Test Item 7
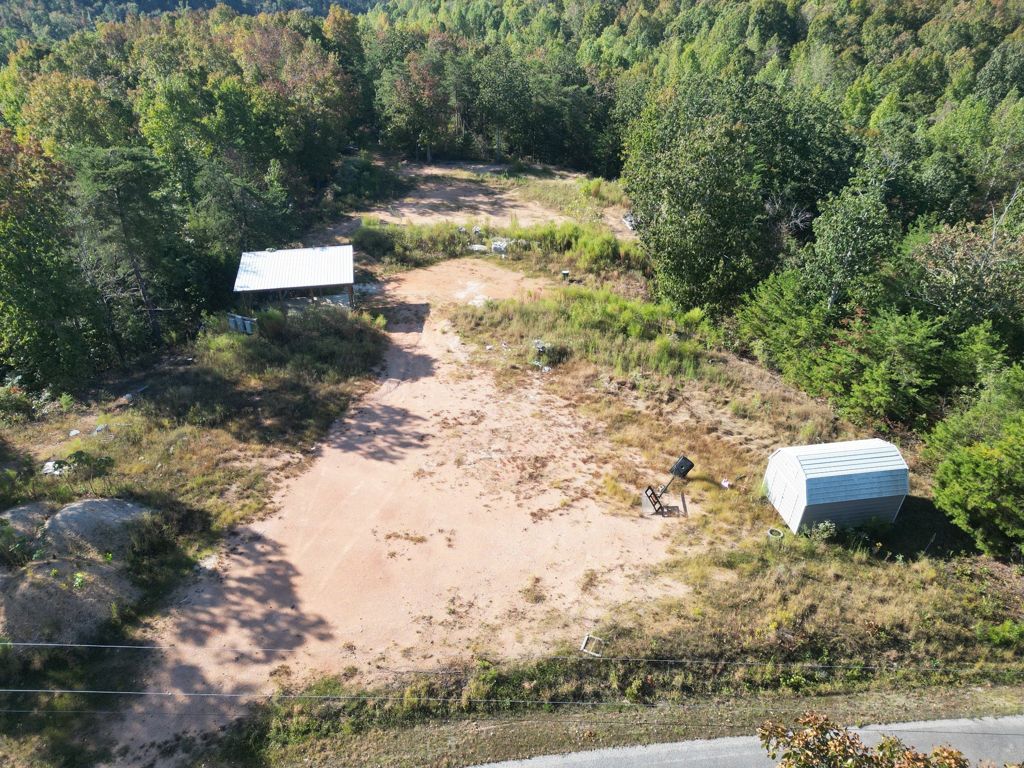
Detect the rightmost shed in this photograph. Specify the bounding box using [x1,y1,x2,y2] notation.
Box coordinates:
[762,434,912,535]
